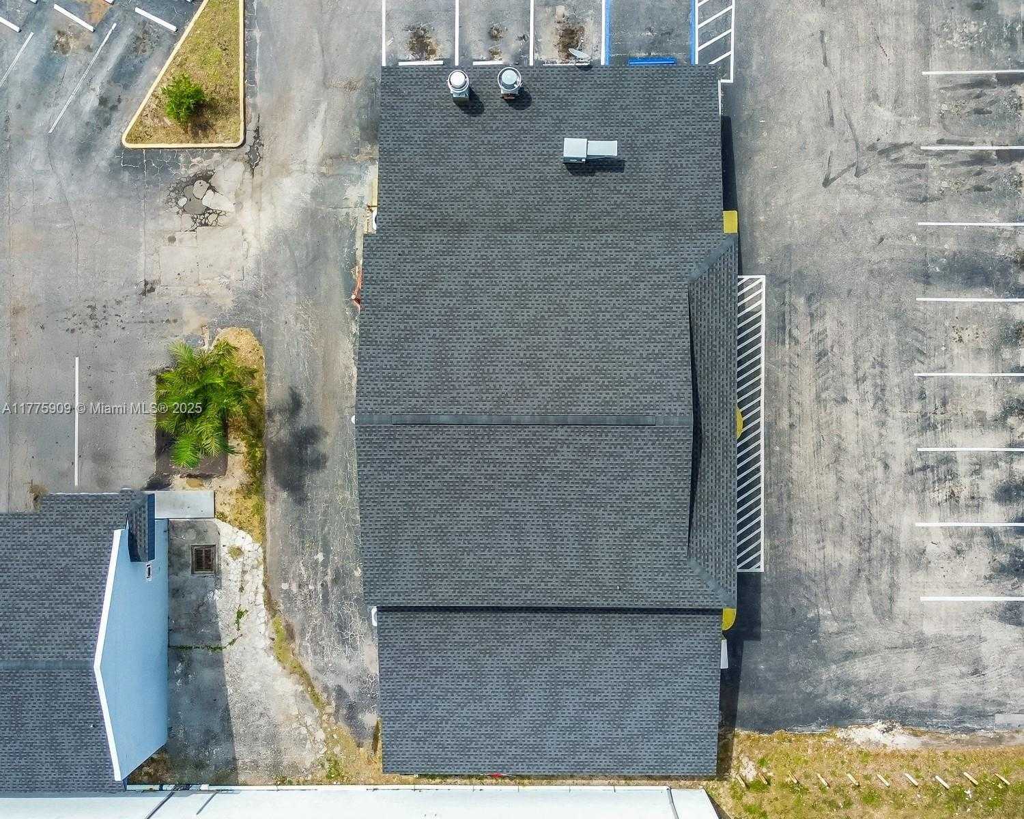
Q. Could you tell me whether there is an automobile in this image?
No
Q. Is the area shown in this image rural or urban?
urban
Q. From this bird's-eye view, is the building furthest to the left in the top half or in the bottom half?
bottom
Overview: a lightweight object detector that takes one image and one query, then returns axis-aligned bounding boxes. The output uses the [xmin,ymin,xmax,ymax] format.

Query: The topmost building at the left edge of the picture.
[0,492,168,792]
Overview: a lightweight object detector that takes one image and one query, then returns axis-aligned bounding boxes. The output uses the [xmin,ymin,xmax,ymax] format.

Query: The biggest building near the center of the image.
[356,65,739,776]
